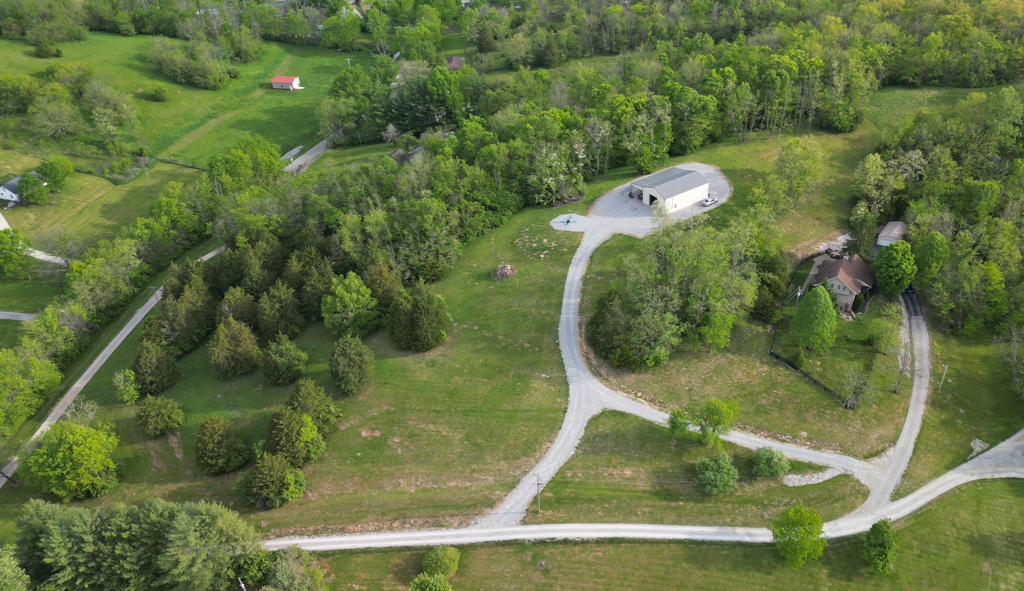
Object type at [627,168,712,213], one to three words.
barn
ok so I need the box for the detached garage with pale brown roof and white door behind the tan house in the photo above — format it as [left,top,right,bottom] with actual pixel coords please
[877,217,917,245]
